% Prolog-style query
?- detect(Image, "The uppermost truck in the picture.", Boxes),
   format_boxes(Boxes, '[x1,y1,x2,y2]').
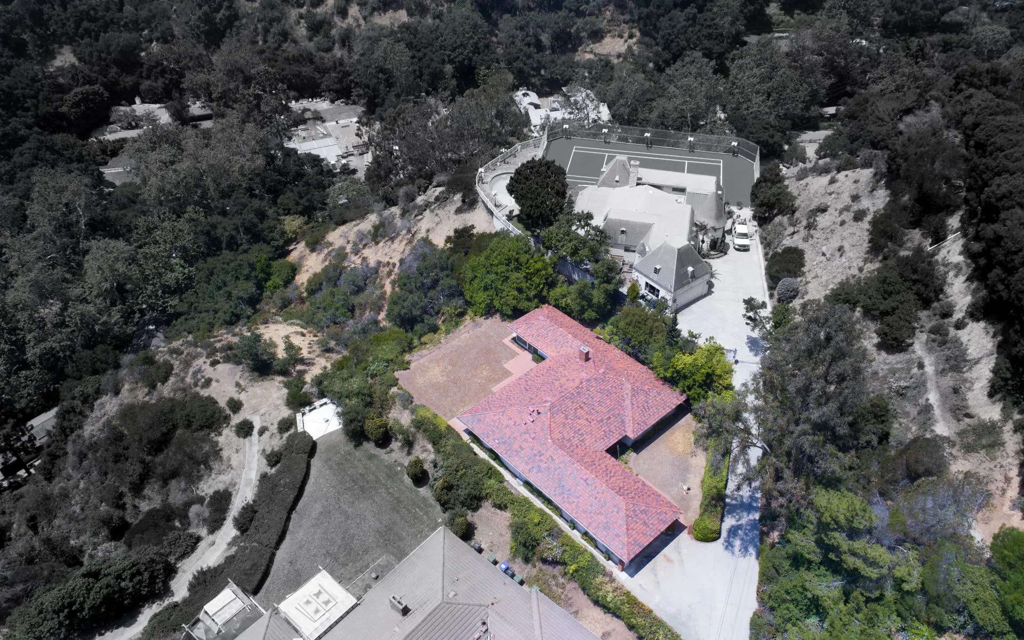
[727,220,752,248]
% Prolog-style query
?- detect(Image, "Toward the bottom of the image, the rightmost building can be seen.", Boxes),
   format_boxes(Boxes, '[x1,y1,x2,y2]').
[457,303,688,565]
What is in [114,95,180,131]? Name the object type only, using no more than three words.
house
